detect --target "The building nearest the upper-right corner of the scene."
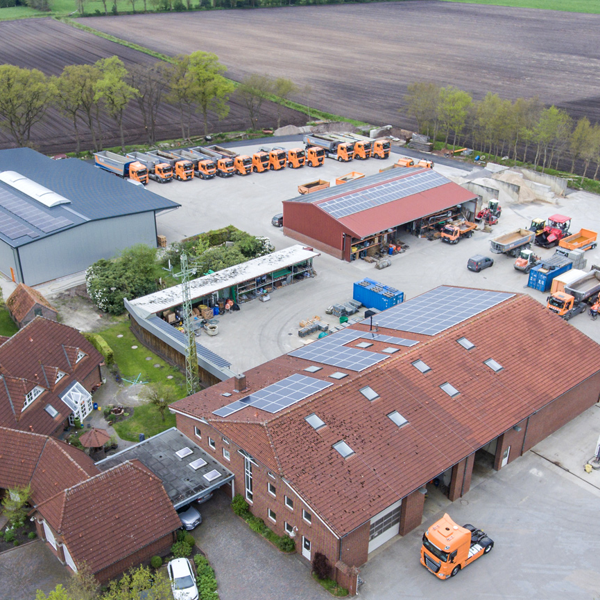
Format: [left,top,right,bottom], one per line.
[282,166,478,262]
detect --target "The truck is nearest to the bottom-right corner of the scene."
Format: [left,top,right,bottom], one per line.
[426,509,501,573]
